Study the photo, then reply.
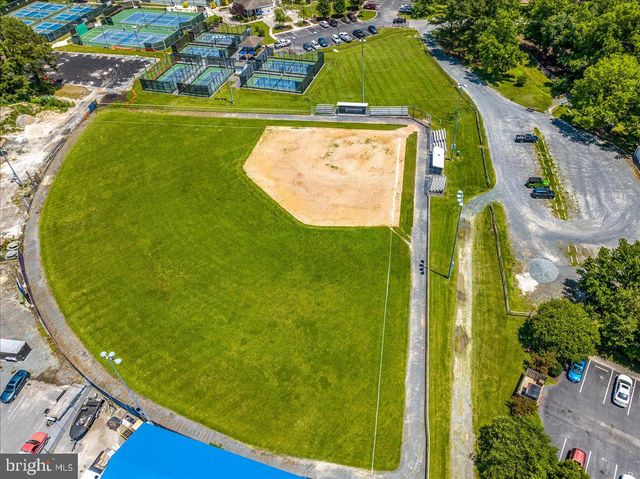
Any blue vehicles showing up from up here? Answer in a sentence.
Yes, a blue vehicle can be made out from above.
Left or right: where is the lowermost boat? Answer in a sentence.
The lowermost boat sits on the left side.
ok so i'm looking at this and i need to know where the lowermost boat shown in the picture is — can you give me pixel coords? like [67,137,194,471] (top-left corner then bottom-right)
[71,393,104,440]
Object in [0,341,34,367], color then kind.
white trailer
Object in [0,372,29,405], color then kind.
blue car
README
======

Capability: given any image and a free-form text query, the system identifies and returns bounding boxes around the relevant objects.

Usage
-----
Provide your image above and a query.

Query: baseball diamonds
[21,106,429,479]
